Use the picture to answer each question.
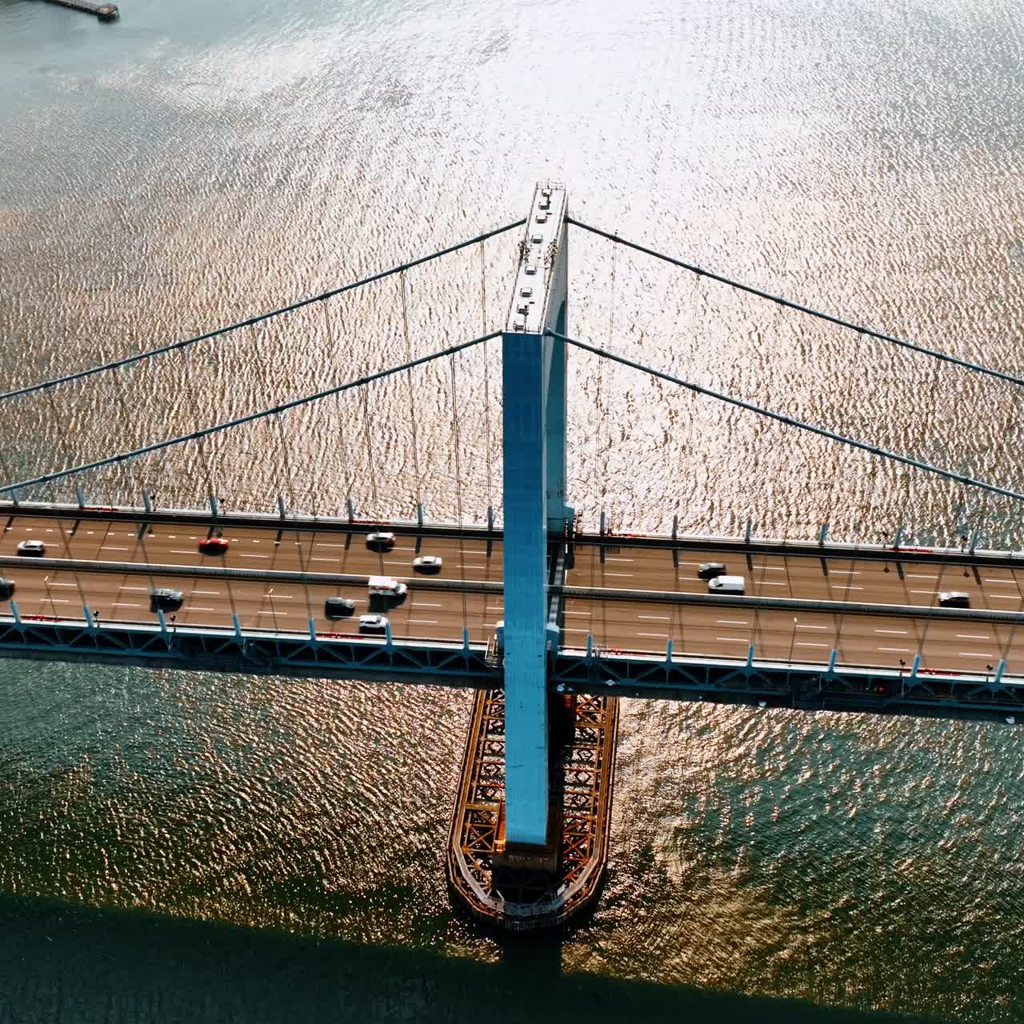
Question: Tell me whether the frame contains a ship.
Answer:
No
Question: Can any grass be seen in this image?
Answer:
No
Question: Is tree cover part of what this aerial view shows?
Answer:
No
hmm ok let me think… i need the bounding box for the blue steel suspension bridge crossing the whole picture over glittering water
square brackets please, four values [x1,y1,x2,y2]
[0,176,1024,876]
